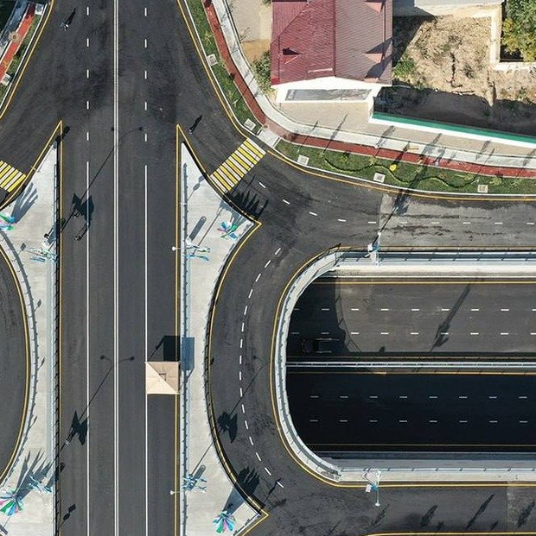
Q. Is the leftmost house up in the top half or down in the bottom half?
top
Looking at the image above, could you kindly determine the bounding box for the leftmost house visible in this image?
[263,0,391,106]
